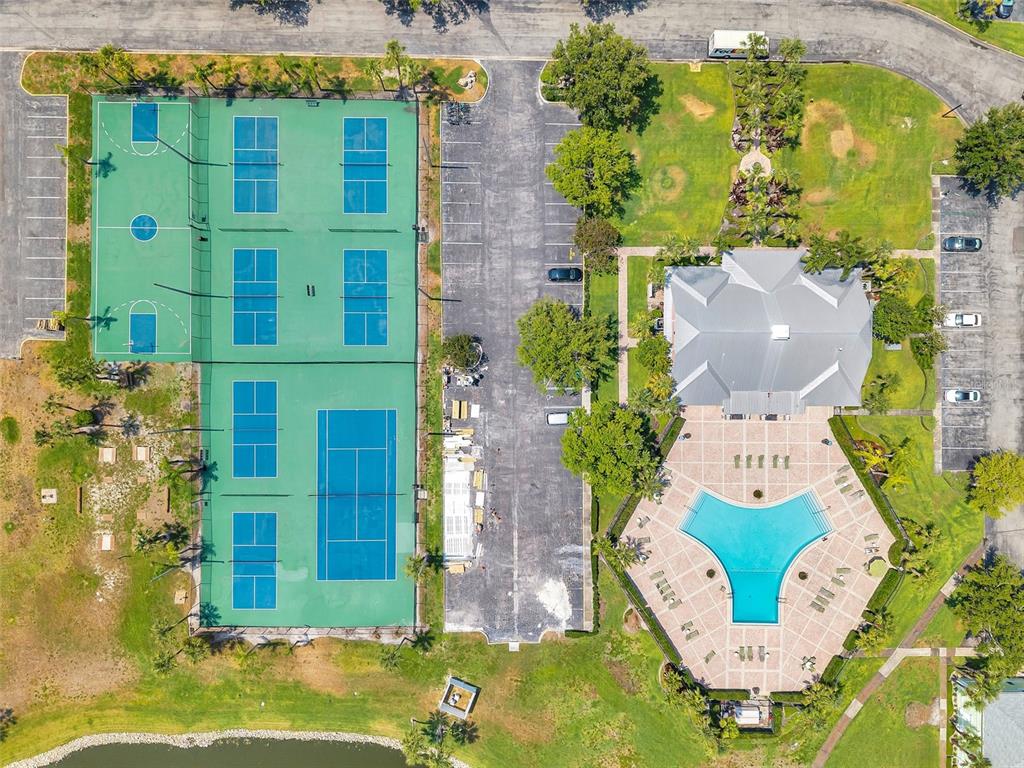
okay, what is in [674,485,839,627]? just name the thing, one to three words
swimming pool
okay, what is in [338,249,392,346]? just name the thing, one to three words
sports court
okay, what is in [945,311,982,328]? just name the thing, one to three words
car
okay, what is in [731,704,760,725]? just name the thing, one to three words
shed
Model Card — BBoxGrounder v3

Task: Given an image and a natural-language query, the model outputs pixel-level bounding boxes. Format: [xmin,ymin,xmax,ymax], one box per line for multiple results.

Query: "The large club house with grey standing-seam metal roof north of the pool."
[664,249,873,414]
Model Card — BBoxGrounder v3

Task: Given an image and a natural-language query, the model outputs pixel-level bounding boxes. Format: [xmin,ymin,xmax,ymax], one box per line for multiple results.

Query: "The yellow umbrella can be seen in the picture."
[867,557,887,576]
